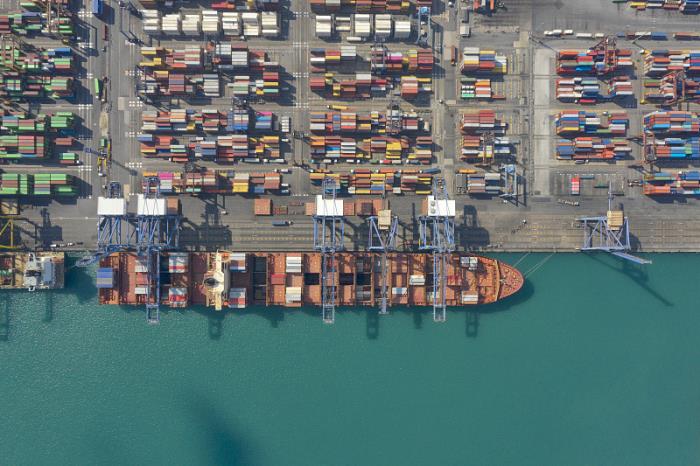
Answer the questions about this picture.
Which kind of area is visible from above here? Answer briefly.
port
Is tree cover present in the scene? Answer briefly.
No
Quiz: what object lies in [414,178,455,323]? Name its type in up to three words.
container crane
